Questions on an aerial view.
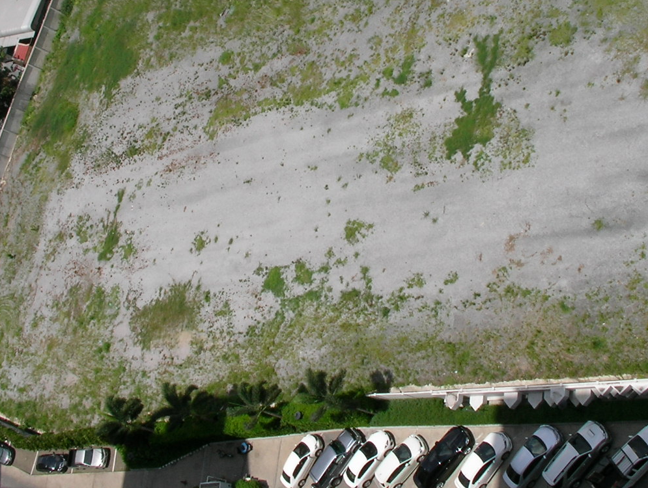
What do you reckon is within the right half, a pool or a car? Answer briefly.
car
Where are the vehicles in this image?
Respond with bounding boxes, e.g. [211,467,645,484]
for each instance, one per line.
[591,419,648,488]
[542,414,616,488]
[68,444,114,471]
[461,428,521,488]
[415,421,480,488]
[277,428,325,488]
[36,451,71,477]
[310,418,367,488]
[344,426,397,488]
[375,429,432,488]
[507,417,570,488]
